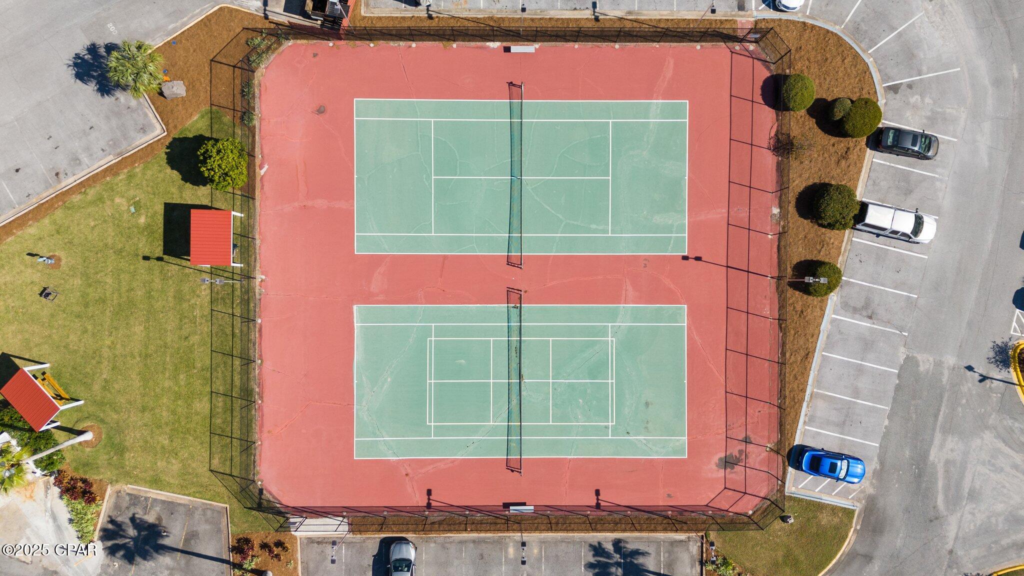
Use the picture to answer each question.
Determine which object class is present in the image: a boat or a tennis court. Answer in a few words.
tennis court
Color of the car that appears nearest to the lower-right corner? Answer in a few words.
blue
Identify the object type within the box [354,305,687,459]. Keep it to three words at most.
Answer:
tennis court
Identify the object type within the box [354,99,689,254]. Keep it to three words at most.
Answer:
tennis court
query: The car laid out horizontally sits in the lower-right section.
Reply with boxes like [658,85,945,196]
[797,445,864,484]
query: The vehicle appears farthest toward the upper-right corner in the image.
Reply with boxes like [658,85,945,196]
[874,125,939,161]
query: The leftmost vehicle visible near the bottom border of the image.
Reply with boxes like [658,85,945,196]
[387,539,418,576]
